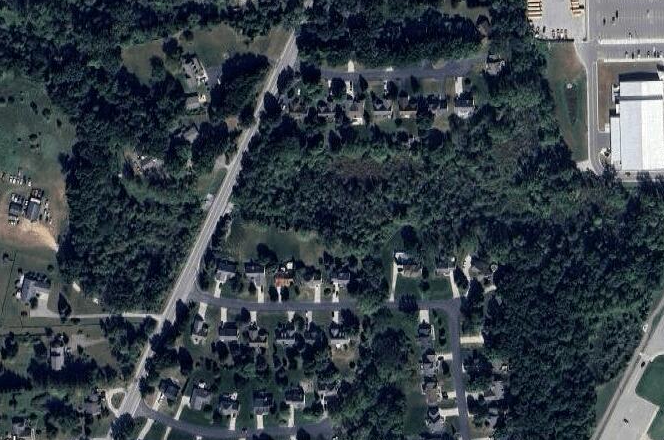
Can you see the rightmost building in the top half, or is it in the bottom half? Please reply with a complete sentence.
The rightmost building is in the top half of the image.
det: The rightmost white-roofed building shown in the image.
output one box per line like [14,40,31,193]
[610,66,664,171]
